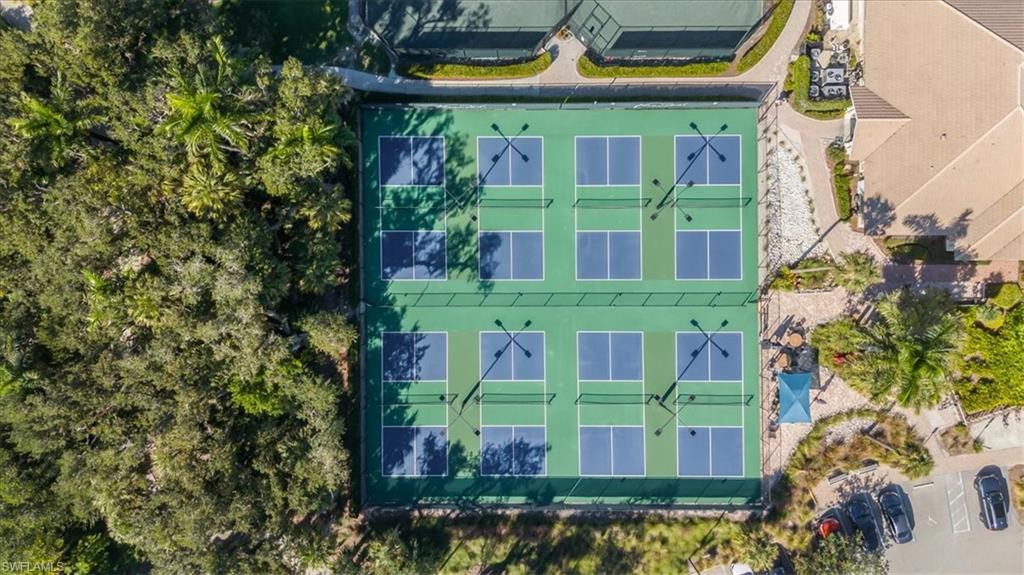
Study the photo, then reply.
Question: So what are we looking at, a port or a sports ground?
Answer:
sports ground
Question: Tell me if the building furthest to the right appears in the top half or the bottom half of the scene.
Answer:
top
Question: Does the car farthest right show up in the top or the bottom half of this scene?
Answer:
bottom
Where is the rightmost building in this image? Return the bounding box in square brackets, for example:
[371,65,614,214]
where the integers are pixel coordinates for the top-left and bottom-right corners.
[839,0,1024,261]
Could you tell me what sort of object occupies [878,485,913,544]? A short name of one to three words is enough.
car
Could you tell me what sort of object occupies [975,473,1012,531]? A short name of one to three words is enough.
car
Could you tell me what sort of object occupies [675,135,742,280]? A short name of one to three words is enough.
sports court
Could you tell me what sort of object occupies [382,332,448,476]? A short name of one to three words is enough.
sports court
